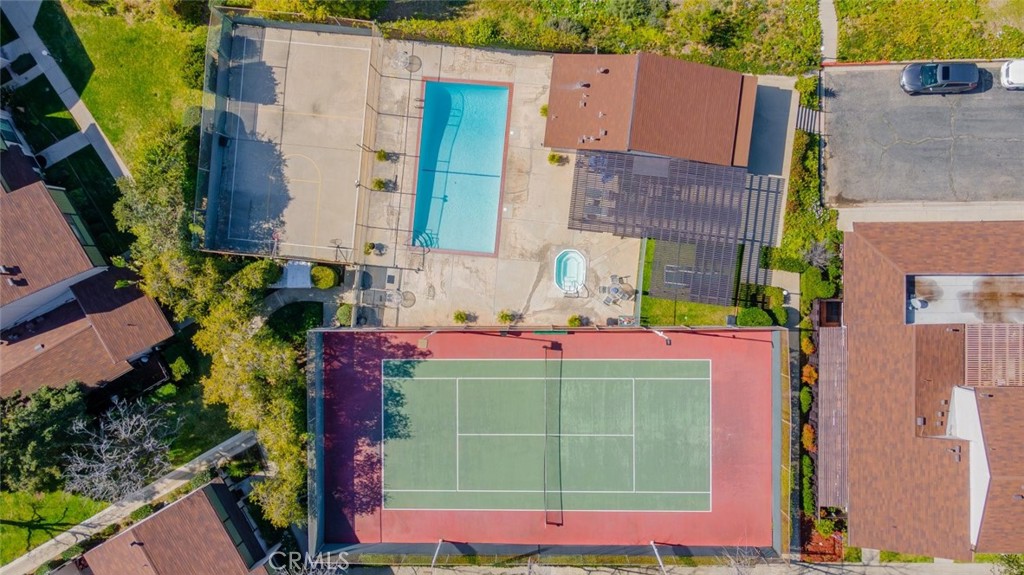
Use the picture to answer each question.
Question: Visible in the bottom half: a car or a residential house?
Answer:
residential house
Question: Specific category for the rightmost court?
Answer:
tennis court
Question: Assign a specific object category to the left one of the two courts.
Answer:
basketball court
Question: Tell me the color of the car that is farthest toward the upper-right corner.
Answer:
white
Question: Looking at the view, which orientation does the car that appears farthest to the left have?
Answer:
from left to right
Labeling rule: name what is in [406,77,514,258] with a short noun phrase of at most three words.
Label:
swimming pool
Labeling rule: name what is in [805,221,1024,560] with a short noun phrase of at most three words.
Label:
house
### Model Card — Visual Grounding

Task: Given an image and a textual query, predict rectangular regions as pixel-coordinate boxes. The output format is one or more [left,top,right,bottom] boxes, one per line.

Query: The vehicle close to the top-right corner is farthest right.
[1002,62,1024,91]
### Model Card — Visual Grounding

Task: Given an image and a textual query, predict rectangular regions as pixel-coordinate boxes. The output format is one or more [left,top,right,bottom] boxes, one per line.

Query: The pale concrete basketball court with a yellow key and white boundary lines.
[212,23,383,264]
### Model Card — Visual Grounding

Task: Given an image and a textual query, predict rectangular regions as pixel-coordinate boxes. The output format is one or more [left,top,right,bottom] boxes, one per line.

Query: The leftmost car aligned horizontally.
[900,61,977,96]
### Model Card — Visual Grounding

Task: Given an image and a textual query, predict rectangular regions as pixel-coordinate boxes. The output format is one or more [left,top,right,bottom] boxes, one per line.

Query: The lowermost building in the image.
[52,478,286,575]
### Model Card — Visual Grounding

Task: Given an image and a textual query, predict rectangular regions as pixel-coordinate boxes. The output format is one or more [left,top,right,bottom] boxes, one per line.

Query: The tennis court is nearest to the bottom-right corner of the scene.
[324,328,772,545]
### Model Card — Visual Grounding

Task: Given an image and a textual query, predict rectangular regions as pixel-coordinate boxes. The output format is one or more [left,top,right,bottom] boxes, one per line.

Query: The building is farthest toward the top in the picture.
[544,53,758,167]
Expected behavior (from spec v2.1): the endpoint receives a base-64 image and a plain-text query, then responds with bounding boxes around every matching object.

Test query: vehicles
[1002,62,1024,91]
[900,61,977,96]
